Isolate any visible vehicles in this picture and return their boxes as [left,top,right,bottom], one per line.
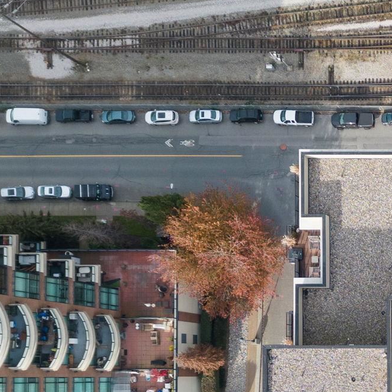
[273,108,315,126]
[382,110,392,125]
[37,183,71,199]
[229,107,262,124]
[144,108,179,125]
[5,106,48,125]
[52,106,95,124]
[73,183,112,200]
[101,108,136,124]
[0,183,35,200]
[331,111,373,129]
[188,107,223,124]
